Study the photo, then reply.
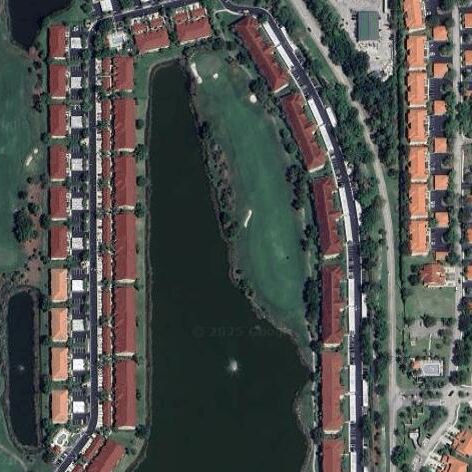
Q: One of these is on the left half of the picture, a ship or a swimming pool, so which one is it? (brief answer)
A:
swimming pool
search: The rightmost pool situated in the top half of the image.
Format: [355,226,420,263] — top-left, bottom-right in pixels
[109,32,128,49]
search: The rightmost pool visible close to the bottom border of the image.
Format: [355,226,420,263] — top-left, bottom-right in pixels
[51,427,73,450]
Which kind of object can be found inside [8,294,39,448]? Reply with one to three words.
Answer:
pond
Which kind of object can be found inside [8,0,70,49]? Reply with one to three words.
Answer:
pond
